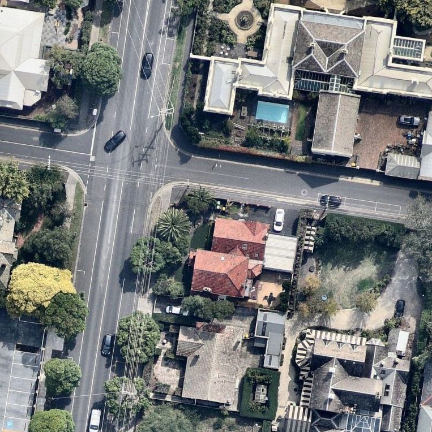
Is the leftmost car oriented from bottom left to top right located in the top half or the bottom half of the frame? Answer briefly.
top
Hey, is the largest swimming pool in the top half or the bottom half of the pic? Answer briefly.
top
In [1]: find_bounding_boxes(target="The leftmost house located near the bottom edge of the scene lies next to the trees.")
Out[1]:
[175,324,248,412]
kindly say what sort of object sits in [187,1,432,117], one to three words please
house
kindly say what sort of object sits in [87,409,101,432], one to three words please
vehicle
